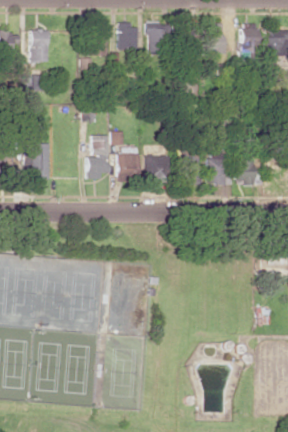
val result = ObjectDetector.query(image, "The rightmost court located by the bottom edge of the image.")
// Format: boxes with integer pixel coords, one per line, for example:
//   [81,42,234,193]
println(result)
[102,335,146,410]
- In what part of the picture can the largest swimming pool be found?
bottom right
